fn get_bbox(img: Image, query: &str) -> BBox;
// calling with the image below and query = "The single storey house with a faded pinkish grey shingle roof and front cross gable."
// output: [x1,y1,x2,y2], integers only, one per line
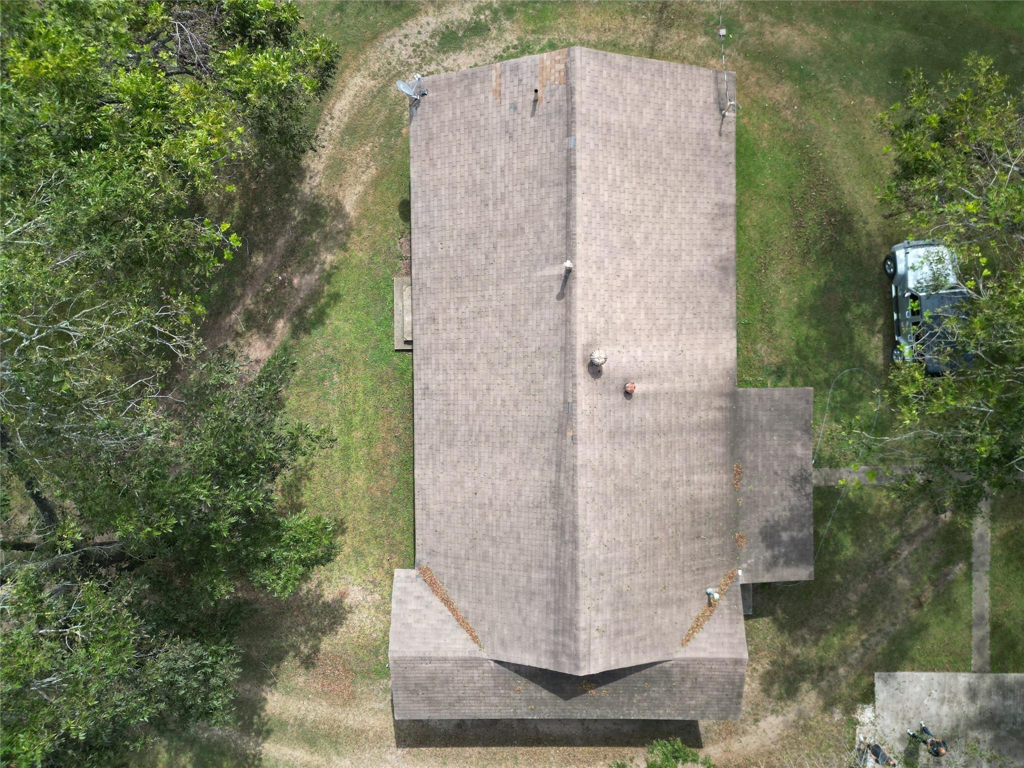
[388,46,814,720]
